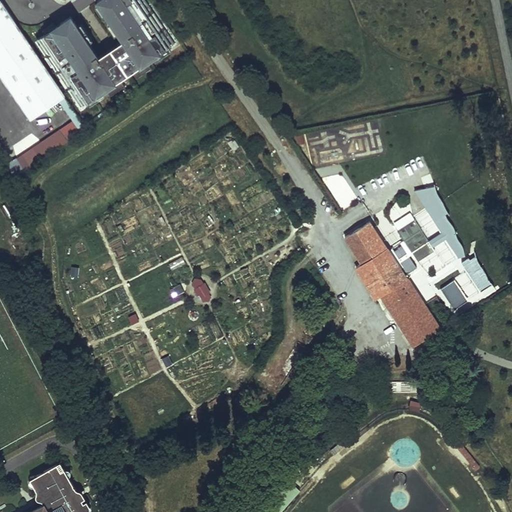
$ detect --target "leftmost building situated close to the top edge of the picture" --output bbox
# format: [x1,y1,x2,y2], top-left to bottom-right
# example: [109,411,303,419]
[0,2,64,122]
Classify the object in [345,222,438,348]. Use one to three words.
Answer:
house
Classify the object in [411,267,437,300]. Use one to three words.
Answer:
building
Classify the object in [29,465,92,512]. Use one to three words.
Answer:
house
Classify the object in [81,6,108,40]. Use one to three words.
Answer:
building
